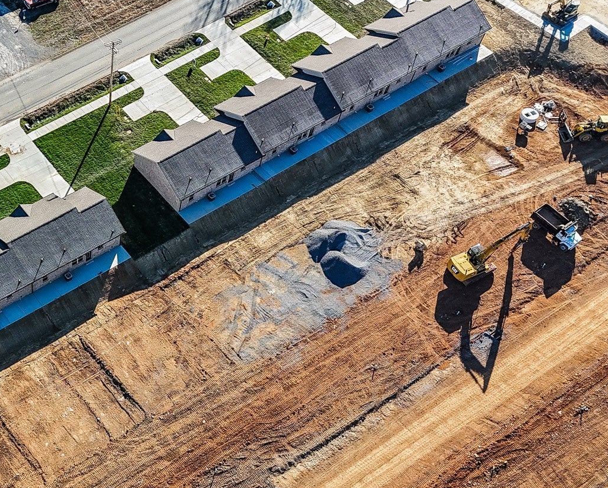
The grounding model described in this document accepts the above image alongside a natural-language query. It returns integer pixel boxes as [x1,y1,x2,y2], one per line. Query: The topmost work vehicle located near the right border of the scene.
[539,0,578,25]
